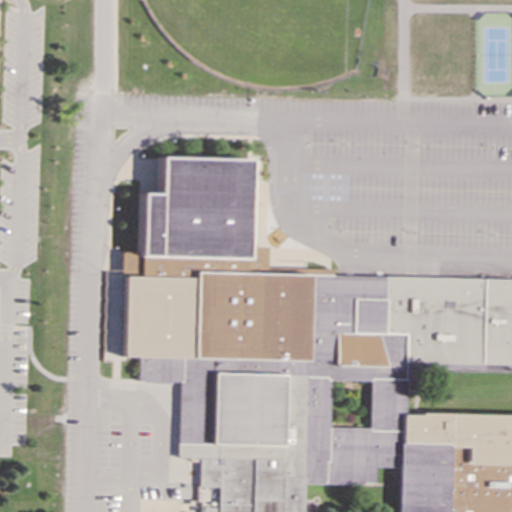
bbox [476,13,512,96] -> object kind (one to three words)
tennis court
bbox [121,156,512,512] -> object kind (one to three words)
building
